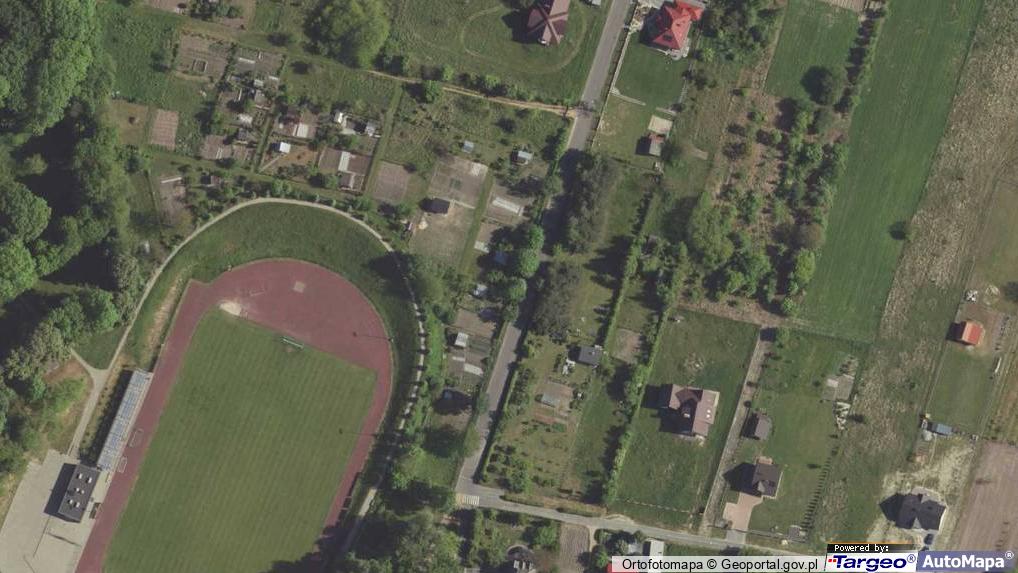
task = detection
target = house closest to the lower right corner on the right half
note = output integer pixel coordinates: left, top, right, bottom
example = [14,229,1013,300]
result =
[895,491,947,533]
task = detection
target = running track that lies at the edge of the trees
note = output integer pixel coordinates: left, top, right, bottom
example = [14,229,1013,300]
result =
[76,259,394,573]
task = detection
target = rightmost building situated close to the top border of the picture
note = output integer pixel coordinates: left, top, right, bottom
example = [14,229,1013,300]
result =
[651,0,701,50]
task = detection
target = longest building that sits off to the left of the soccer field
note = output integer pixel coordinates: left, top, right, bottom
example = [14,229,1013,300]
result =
[58,465,99,521]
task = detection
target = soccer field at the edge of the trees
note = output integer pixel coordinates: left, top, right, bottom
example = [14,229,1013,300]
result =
[105,308,377,573]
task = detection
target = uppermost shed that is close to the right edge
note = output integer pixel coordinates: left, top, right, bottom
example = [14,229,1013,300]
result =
[954,320,980,346]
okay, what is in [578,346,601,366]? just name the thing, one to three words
house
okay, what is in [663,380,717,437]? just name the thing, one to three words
house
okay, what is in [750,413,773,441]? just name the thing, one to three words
shed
